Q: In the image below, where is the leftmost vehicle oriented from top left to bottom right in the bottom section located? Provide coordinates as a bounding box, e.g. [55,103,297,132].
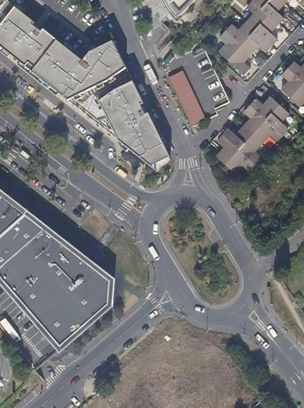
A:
[0,317,20,340]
